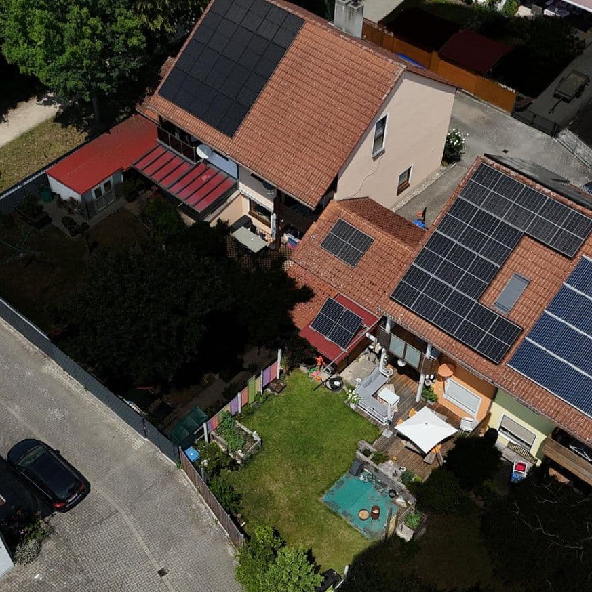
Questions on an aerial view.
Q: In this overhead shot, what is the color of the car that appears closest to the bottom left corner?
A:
black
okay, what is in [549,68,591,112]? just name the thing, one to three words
trailer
